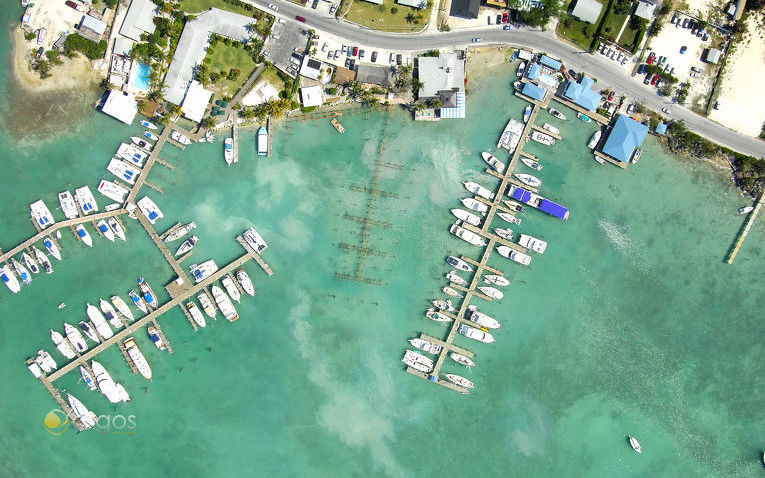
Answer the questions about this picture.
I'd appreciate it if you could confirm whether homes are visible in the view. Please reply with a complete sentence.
Yes, there's a home down there.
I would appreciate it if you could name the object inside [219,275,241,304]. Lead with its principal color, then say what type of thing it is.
white boat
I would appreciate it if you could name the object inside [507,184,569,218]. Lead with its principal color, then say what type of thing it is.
blue boat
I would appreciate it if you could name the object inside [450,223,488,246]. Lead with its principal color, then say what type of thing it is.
white boat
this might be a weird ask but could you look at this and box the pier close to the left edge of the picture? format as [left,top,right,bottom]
[0,120,273,431]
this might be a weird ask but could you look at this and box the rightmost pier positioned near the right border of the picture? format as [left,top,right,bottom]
[725,188,765,263]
